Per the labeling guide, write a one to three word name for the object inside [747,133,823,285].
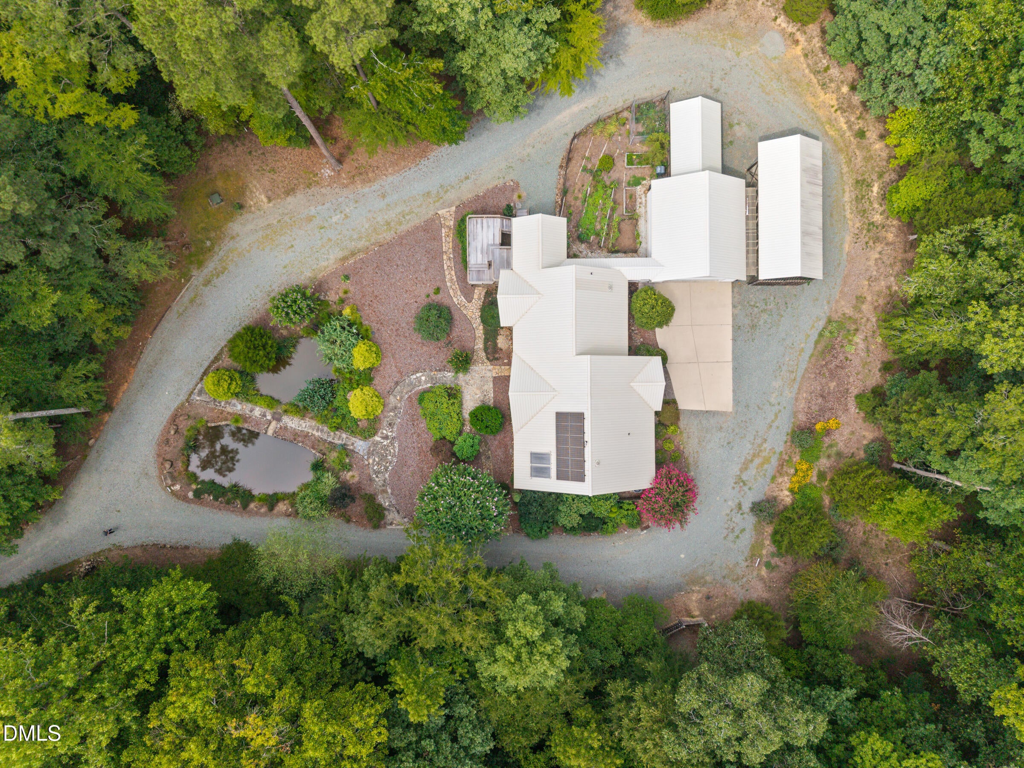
barn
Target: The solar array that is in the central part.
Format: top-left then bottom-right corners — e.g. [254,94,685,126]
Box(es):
[555,411,589,482]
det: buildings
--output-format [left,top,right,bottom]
[648,169,747,285]
[747,133,823,285]
[497,213,667,496]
